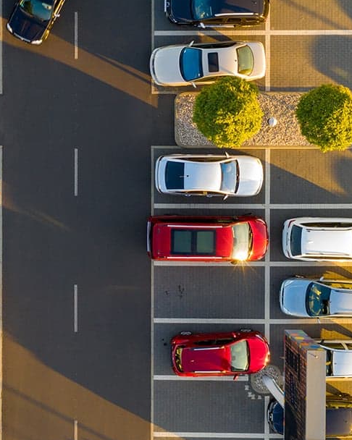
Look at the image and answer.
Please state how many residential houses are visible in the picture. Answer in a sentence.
There are no residential houses in the image.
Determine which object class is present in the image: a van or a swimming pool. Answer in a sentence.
Of the two, only a van appears.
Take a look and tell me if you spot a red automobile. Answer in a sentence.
Yes, the picture does show a red automobile.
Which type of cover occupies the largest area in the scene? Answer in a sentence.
The scene is dominated by paved ground.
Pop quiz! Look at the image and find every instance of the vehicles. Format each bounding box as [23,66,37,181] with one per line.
[282,217,352,262]
[7,0,66,43]
[279,276,352,322]
[310,336,352,379]
[150,41,266,87]
[172,332,269,380]
[155,155,263,200]
[164,0,272,26]
[147,215,269,265]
